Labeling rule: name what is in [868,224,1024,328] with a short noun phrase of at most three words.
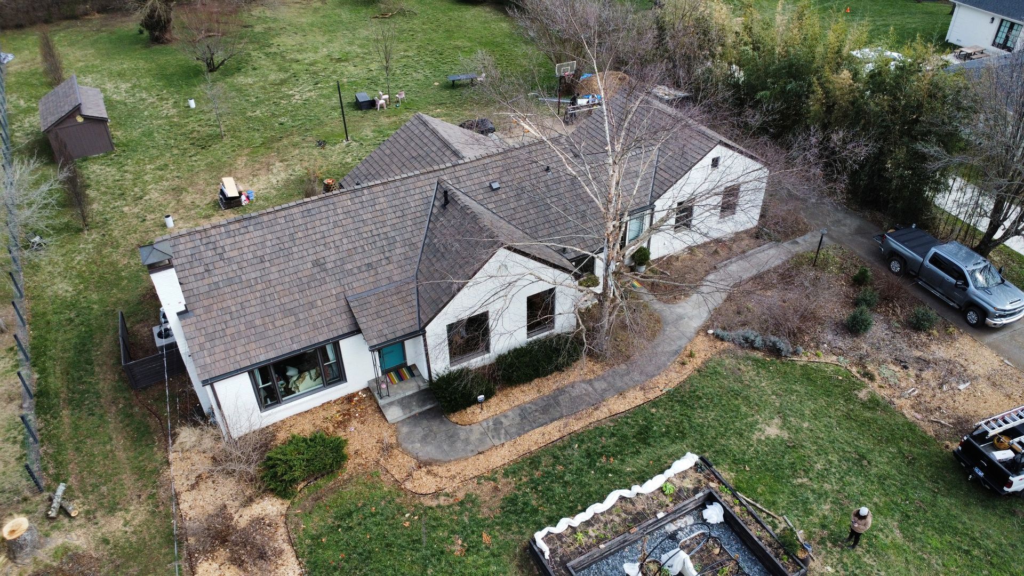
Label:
truck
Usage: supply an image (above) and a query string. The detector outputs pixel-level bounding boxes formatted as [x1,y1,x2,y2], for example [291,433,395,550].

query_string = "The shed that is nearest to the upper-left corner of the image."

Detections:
[37,75,114,162]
